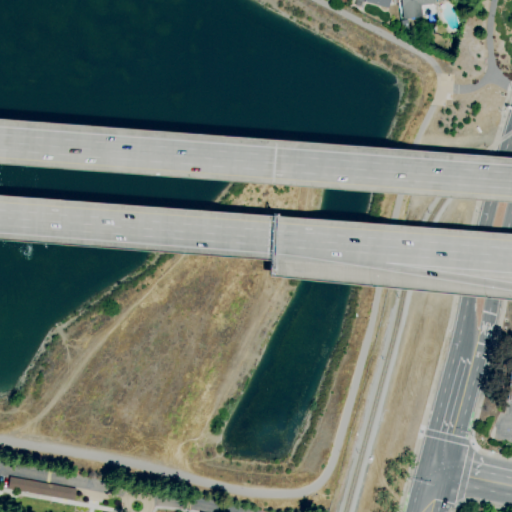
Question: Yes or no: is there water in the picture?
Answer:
Yes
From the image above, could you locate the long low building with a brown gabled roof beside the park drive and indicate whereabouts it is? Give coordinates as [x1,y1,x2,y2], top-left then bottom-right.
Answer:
[8,476,76,500]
